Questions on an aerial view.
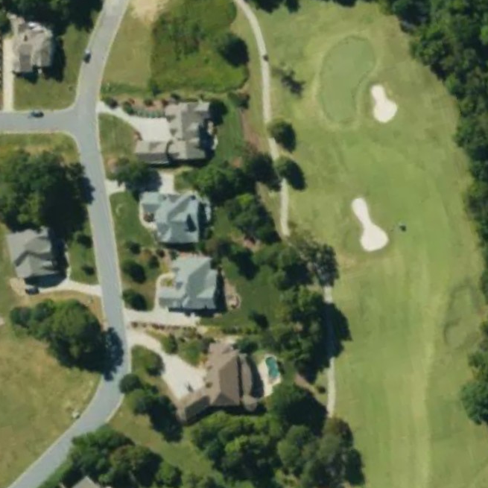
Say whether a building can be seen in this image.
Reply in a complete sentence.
Yes, the picture does show a building.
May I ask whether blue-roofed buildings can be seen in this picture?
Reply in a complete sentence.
No, the scene contains no blue-roofed building.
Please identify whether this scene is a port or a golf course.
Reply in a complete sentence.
It's a golf course.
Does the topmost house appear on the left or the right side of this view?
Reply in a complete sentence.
It is on the left.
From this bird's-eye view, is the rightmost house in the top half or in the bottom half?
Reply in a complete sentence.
You can find the rightmost house in the bottom half.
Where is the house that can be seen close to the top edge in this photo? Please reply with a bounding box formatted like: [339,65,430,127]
[13,23,54,73]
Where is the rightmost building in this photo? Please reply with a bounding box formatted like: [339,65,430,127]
[205,342,260,413]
